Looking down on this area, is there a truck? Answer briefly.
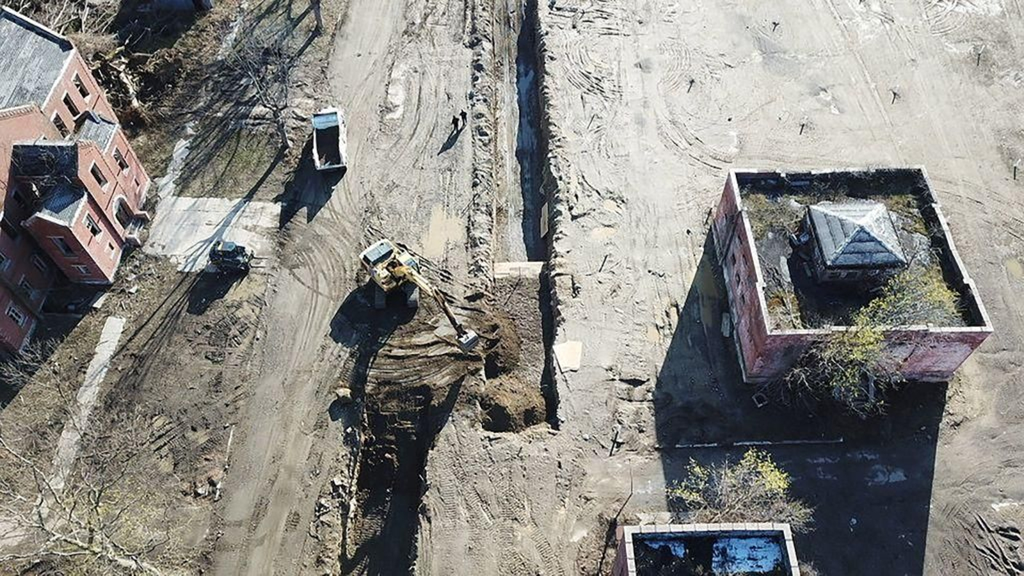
Yes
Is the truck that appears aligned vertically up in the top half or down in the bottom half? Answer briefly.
top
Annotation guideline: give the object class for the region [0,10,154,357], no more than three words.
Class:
building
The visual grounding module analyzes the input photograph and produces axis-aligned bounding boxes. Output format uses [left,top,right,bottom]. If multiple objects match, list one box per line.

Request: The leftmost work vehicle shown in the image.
[204,239,271,276]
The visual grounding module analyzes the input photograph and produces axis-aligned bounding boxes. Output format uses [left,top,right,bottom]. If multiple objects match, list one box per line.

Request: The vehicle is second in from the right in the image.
[308,105,347,179]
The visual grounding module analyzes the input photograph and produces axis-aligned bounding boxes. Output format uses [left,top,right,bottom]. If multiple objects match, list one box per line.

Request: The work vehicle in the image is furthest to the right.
[357,237,481,353]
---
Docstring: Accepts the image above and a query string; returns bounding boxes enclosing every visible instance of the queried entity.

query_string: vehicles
[357,237,481,353]
[308,105,347,179]
[204,239,271,276]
